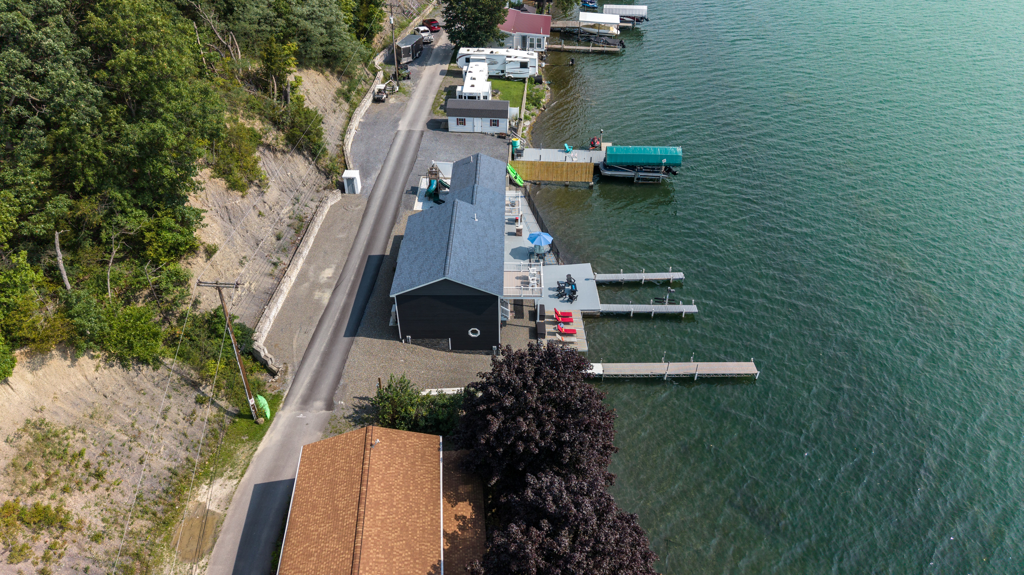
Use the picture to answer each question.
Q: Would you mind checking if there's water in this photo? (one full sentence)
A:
Yes, some water is visible.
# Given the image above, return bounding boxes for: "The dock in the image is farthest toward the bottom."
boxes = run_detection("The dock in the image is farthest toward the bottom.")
[574,351,760,381]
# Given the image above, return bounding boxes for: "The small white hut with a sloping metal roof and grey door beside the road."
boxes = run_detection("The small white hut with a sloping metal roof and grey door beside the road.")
[341,167,361,194]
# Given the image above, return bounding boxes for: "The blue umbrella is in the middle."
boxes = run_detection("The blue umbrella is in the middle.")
[527,231,553,249]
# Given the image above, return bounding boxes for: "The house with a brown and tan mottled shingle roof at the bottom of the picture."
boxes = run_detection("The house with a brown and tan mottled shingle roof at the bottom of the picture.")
[276,425,490,575]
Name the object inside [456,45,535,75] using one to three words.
camper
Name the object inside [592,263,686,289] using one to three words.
pier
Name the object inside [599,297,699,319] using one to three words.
pier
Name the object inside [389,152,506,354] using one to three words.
house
